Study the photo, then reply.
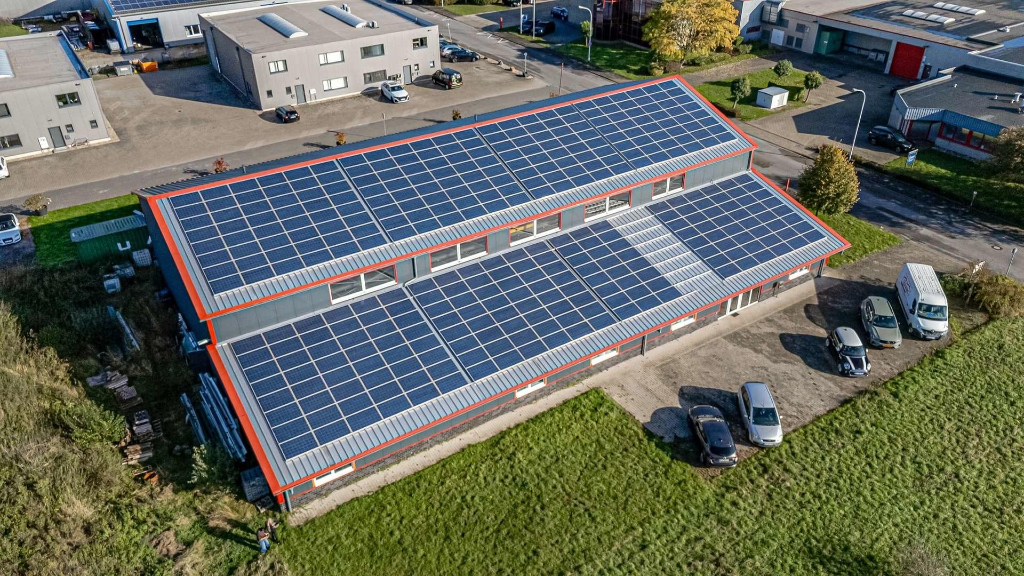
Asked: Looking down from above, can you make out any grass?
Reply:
Yes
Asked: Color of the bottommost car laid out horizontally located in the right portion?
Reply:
black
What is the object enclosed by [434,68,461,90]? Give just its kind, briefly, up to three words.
vehicle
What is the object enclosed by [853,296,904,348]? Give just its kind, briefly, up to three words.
car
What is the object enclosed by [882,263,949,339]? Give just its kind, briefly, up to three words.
van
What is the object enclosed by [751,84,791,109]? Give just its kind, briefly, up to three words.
shed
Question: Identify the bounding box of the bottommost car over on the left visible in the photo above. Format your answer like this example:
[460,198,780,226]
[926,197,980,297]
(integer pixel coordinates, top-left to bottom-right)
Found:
[0,213,25,246]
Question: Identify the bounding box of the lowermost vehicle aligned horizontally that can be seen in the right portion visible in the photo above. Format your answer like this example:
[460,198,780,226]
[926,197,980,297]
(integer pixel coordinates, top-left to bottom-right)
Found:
[861,126,914,156]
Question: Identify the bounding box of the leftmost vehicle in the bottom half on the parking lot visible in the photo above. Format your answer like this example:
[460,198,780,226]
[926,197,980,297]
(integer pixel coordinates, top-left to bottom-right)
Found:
[685,401,733,467]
